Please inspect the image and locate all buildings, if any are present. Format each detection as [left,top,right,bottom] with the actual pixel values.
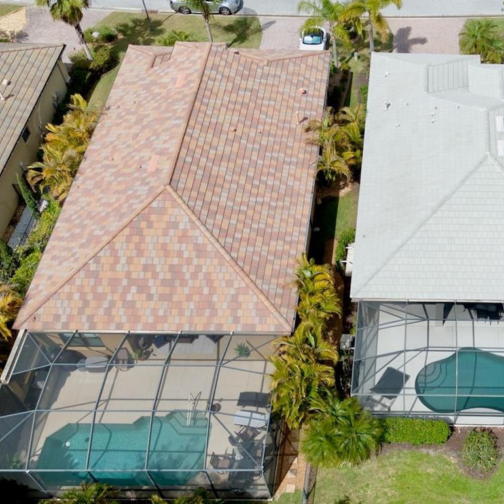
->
[0,42,71,239]
[348,51,504,329]
[11,30,330,354]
